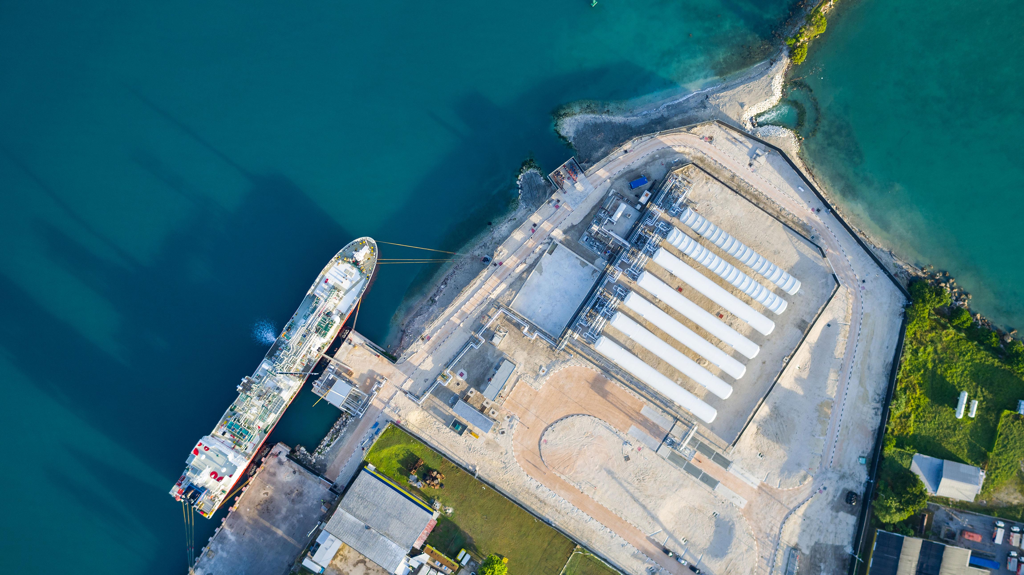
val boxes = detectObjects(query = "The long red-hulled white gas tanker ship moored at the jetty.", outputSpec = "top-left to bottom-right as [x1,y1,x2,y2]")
[169,236,378,519]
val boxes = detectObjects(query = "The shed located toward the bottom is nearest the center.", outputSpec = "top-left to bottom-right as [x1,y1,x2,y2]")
[483,359,516,401]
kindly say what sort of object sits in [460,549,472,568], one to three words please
vehicle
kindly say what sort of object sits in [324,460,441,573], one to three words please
warehouse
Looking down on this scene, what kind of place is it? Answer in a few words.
port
